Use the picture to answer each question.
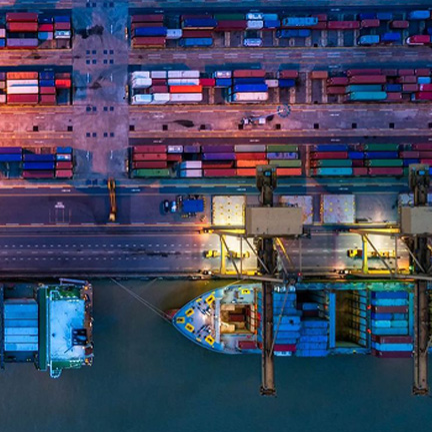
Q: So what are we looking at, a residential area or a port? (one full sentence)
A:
What you see here is a port.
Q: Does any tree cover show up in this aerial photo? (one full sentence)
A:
No, there's no tree cover in this view.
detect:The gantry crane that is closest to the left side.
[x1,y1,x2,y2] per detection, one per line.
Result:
[205,166,299,395]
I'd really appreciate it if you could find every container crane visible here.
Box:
[205,166,299,395]
[347,164,432,395]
